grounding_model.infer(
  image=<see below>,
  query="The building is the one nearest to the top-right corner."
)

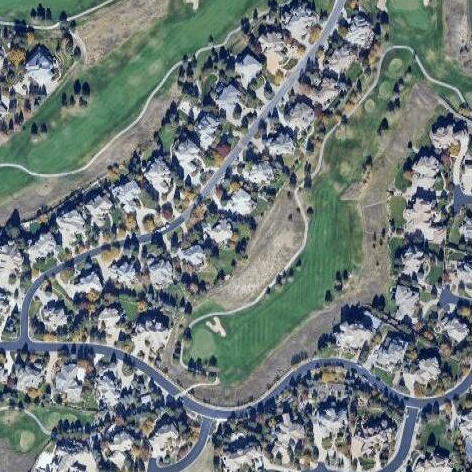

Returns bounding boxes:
[340,14,380,53]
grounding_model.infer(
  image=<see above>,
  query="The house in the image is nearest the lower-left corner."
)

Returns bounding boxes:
[45,444,91,472]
